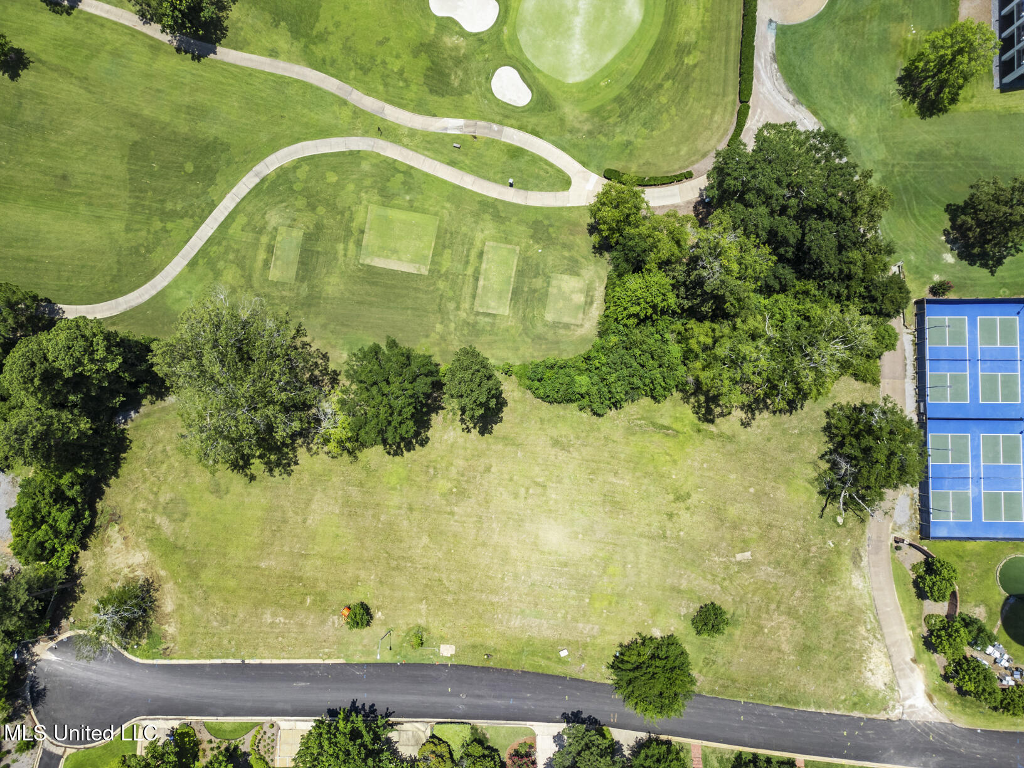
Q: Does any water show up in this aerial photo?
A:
No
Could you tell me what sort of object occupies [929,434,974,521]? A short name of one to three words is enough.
sports court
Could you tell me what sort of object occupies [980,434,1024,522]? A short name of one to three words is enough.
sports court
